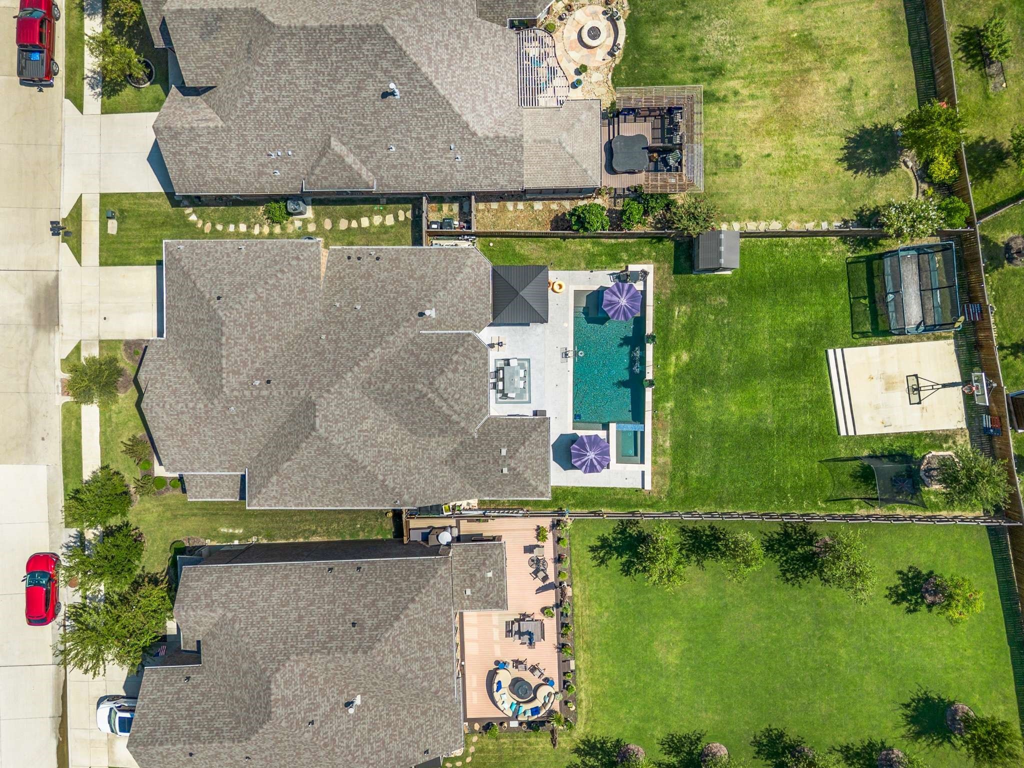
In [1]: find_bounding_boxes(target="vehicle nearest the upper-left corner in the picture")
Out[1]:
[12,0,60,89]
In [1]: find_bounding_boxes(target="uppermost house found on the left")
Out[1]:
[142,0,603,205]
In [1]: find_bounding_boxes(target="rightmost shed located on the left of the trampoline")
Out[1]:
[696,230,743,278]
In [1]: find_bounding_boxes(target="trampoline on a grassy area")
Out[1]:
[878,241,963,335]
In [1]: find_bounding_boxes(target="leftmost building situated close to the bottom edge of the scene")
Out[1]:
[127,537,508,768]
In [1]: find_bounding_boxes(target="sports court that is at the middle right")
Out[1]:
[826,340,966,435]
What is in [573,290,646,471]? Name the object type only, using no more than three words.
swimming pool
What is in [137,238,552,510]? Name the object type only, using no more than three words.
house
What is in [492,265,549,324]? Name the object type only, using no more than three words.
gazebo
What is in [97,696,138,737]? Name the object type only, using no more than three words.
car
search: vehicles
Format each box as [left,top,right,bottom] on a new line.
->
[97,696,138,737]
[21,552,63,625]
[12,0,60,89]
